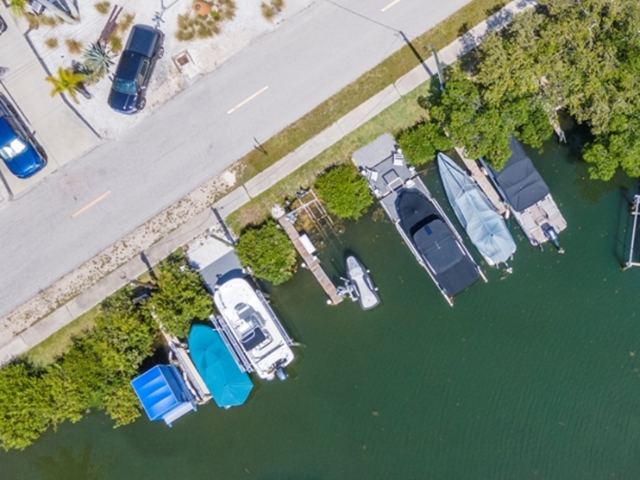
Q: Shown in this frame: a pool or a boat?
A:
boat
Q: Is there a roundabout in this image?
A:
No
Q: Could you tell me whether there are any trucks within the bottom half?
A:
No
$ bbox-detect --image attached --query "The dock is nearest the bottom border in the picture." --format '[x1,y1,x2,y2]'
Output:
[170,330,209,407]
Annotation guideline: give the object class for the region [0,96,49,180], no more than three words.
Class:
truck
